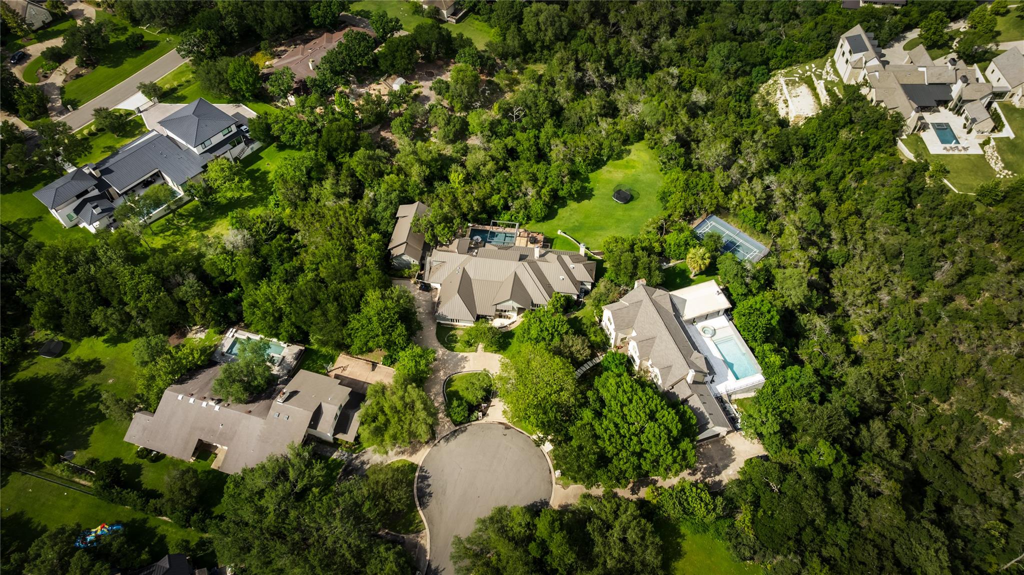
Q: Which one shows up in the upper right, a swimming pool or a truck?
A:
swimming pool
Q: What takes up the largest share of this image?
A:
trees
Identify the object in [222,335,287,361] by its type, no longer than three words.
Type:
swimming pool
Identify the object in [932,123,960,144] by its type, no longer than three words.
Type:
swimming pool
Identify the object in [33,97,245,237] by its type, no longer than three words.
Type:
house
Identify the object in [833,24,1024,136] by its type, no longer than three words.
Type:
house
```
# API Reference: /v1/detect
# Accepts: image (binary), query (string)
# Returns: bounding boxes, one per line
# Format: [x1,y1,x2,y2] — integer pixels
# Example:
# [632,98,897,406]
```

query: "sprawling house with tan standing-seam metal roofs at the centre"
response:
[428,238,596,328]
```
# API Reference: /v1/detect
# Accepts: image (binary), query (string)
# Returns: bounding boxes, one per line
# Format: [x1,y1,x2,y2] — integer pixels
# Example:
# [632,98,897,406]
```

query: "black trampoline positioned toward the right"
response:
[612,184,632,202]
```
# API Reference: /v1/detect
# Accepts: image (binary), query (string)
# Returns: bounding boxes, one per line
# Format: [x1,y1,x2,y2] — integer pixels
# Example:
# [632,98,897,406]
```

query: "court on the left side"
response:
[329,354,396,390]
